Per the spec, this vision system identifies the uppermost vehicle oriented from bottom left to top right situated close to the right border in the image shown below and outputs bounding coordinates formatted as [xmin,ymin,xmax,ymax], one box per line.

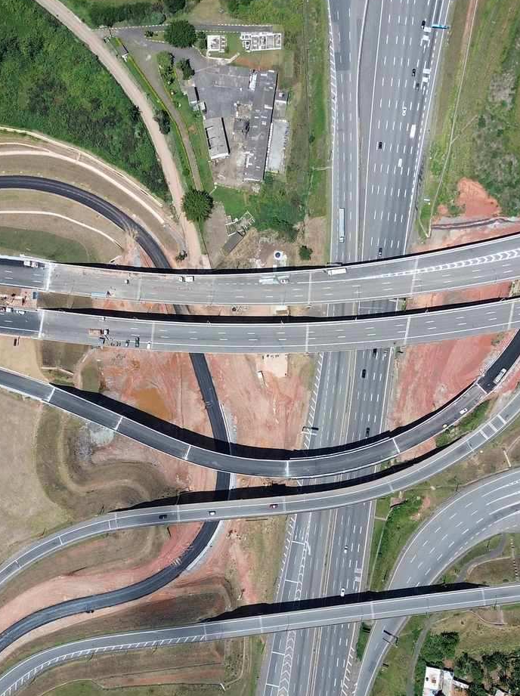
[492,368,508,383]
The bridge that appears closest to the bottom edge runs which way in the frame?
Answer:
from side to side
